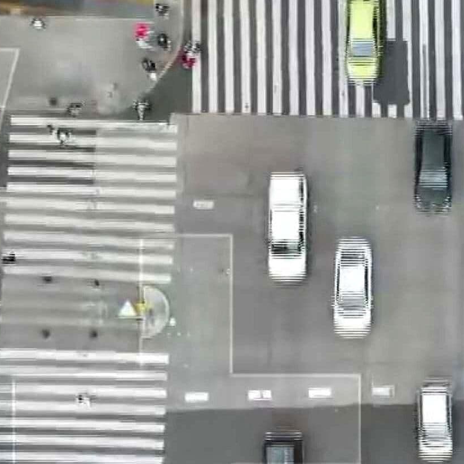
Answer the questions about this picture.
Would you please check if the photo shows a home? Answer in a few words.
No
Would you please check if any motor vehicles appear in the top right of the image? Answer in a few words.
Yes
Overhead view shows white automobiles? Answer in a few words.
Yes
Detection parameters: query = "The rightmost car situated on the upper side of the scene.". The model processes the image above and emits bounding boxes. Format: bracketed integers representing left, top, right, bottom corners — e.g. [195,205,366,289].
[412,120,454,214]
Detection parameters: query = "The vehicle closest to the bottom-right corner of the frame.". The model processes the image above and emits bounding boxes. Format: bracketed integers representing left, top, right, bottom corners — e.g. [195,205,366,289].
[413,378,457,462]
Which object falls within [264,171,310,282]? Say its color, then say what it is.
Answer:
white car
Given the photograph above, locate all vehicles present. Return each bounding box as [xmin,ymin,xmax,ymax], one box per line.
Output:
[265,430,303,464]
[341,0,384,86]
[413,378,457,462]
[412,120,454,214]
[330,238,375,338]
[264,171,310,282]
